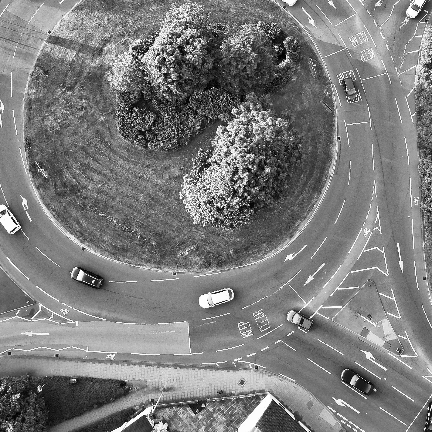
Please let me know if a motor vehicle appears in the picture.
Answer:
Yes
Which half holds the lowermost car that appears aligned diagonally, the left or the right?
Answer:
right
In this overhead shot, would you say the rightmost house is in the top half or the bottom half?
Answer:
bottom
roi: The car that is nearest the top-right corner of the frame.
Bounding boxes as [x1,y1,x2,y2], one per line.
[403,0,428,20]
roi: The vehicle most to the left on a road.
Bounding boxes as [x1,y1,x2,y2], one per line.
[0,203,22,236]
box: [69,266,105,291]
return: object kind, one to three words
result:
car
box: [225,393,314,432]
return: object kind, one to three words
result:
house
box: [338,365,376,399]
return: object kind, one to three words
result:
car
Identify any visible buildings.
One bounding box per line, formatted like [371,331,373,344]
[112,406,163,432]
[225,393,314,432]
